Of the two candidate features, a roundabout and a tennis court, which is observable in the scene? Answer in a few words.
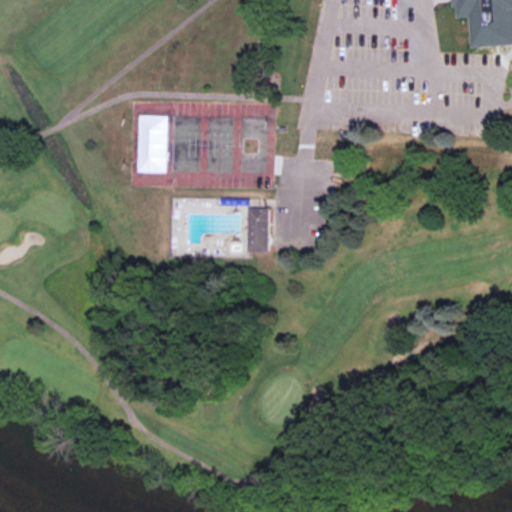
tennis court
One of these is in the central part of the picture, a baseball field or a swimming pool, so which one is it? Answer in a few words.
swimming pool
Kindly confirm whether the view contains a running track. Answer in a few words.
No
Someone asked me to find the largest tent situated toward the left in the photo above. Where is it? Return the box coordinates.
[137,114,172,174]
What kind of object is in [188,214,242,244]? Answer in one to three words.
swimming pool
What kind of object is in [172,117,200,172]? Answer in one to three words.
tennis court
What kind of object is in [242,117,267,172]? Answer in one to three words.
tennis court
